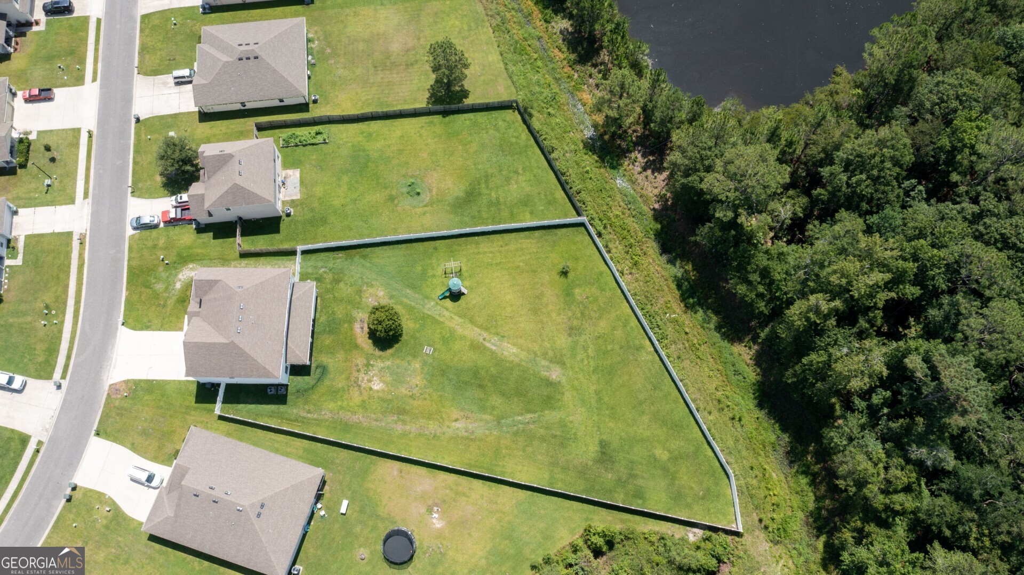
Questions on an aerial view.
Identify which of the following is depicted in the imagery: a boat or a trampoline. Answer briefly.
trampoline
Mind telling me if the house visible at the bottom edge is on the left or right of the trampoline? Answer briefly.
to its left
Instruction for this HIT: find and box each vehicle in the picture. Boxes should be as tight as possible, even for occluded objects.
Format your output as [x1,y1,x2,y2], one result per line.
[43,0,74,16]
[160,207,197,223]
[0,374,29,391]
[20,87,57,103]
[129,216,161,230]
[170,69,197,85]
[167,194,190,209]
[126,466,164,488]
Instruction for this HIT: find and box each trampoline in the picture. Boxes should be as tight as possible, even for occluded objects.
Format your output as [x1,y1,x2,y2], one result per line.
[382,529,417,565]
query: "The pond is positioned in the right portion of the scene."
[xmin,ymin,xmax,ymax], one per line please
[623,0,934,120]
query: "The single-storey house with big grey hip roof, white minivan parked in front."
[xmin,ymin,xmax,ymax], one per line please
[142,426,327,575]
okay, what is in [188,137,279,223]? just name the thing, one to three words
house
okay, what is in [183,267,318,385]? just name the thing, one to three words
house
